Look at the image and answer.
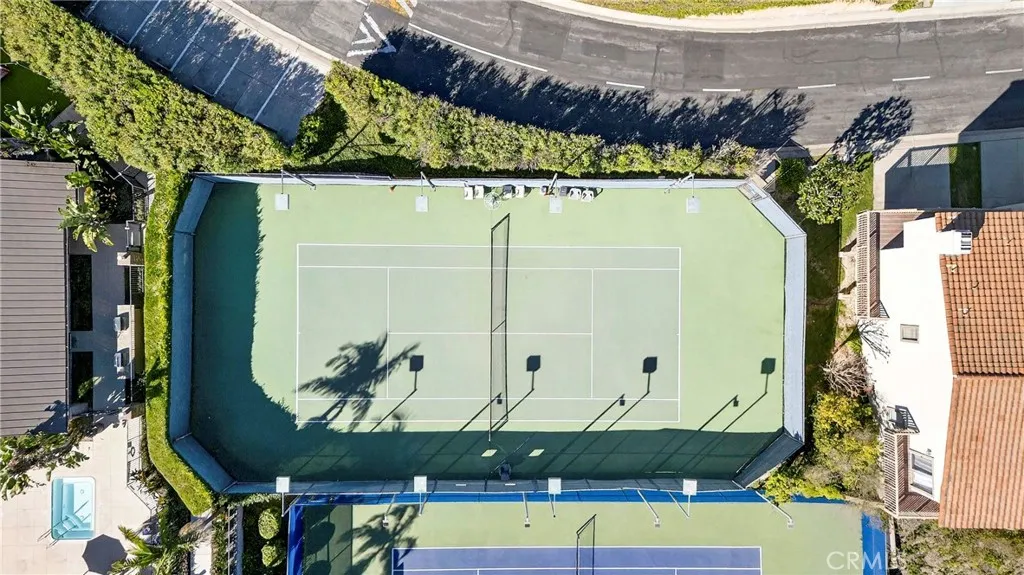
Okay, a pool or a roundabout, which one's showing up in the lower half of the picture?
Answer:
pool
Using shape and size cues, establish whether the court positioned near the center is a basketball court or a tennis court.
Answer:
tennis court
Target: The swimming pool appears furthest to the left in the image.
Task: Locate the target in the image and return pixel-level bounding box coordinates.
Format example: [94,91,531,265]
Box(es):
[51,476,96,541]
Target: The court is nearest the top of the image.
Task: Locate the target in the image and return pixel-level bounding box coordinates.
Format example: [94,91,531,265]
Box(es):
[197,186,785,477]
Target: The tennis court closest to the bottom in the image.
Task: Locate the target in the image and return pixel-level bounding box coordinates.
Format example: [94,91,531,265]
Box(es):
[306,503,861,575]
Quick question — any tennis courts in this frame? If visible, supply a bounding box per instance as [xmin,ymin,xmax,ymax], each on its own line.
[306,503,861,575]
[197,186,785,477]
